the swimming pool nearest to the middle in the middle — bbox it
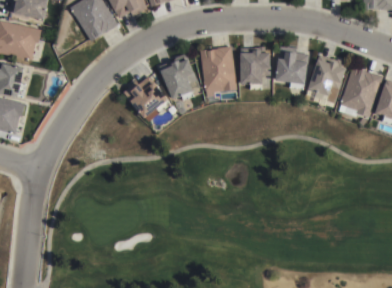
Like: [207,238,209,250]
[152,112,173,128]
